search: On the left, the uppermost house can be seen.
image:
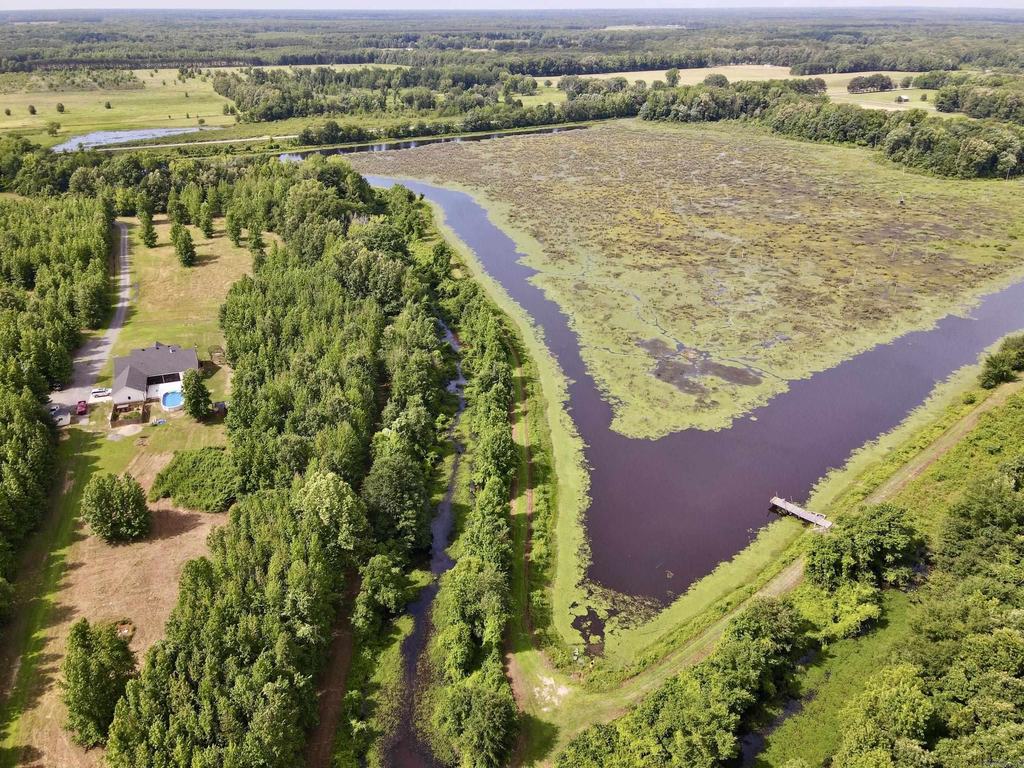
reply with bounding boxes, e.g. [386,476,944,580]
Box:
[109,341,202,404]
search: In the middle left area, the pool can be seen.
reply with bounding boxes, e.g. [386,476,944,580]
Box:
[159,393,188,412]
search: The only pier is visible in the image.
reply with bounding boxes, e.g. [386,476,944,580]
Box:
[769,495,827,526]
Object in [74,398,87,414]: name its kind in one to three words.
vehicle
